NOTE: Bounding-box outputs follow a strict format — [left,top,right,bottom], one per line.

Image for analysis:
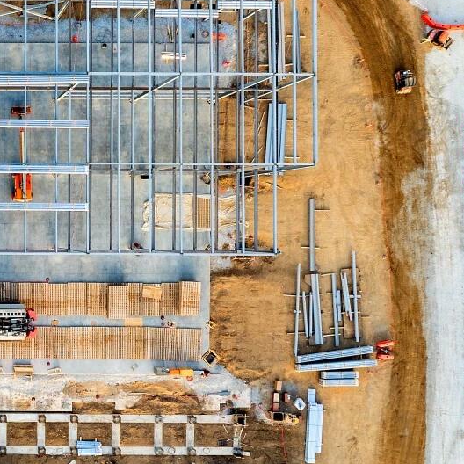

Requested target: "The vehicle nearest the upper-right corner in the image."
[430,24,459,54]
